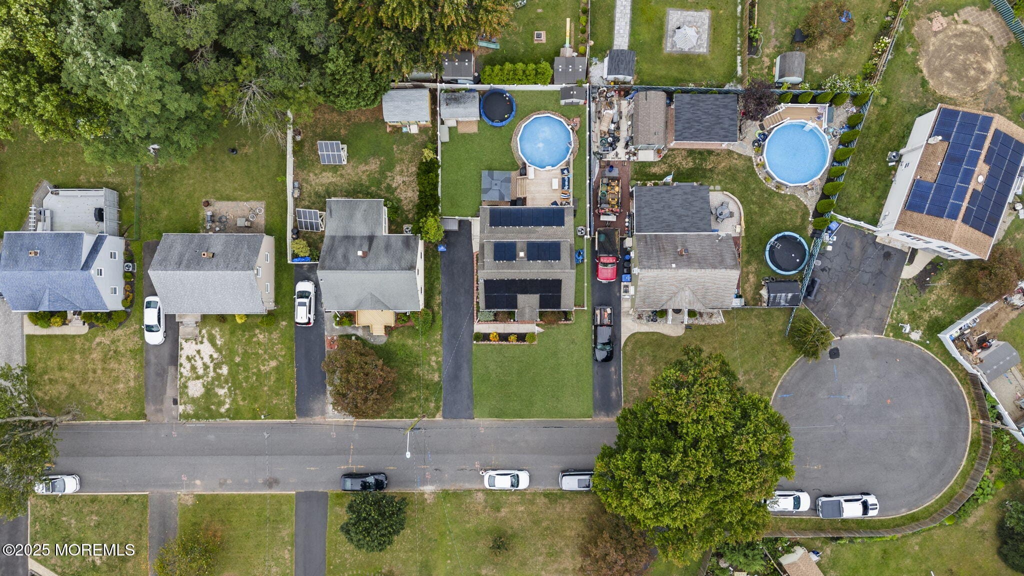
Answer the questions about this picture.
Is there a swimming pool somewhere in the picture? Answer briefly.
Yes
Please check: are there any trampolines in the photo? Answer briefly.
Yes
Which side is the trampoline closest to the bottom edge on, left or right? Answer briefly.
right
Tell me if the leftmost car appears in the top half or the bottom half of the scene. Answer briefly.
bottom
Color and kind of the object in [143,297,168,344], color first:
white car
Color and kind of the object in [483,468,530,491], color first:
white car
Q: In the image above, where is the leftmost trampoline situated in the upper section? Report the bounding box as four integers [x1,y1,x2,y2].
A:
[480,89,516,128]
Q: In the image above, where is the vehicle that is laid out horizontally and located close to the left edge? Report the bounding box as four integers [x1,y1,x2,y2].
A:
[34,474,82,496]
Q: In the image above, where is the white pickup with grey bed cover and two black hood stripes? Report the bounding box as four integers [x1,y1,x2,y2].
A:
[815,493,878,519]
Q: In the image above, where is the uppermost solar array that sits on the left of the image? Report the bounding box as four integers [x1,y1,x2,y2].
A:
[318,141,354,165]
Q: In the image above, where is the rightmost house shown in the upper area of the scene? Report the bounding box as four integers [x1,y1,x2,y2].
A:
[865,103,1024,271]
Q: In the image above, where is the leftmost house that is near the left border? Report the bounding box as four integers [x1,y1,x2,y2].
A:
[0,232,123,313]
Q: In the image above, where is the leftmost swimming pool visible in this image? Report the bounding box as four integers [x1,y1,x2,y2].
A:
[518,114,572,170]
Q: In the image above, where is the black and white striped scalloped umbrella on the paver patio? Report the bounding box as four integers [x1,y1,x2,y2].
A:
[673,26,699,52]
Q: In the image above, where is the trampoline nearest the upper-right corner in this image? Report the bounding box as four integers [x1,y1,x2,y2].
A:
[763,229,814,275]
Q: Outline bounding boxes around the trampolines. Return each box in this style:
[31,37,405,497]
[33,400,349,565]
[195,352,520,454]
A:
[480,89,516,128]
[763,229,814,275]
